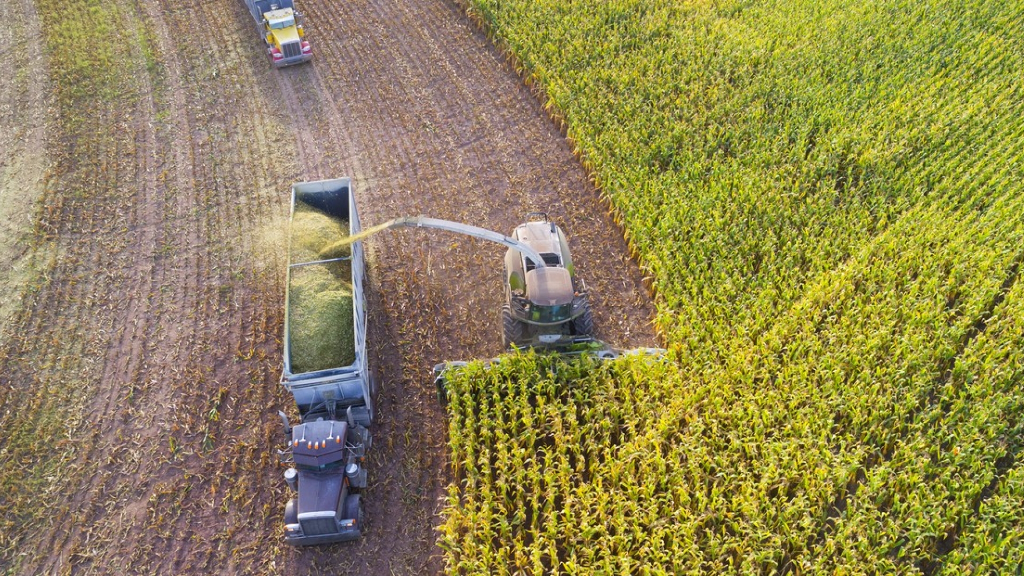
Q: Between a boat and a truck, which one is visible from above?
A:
truck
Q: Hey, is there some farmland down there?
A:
Yes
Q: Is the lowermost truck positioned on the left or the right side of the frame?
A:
left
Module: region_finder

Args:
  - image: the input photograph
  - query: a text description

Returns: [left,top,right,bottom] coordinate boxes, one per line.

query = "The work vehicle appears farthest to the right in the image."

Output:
[386,213,673,410]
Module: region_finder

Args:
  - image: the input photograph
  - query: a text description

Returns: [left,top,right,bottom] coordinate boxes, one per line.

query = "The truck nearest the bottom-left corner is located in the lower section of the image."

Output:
[269,400,369,546]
